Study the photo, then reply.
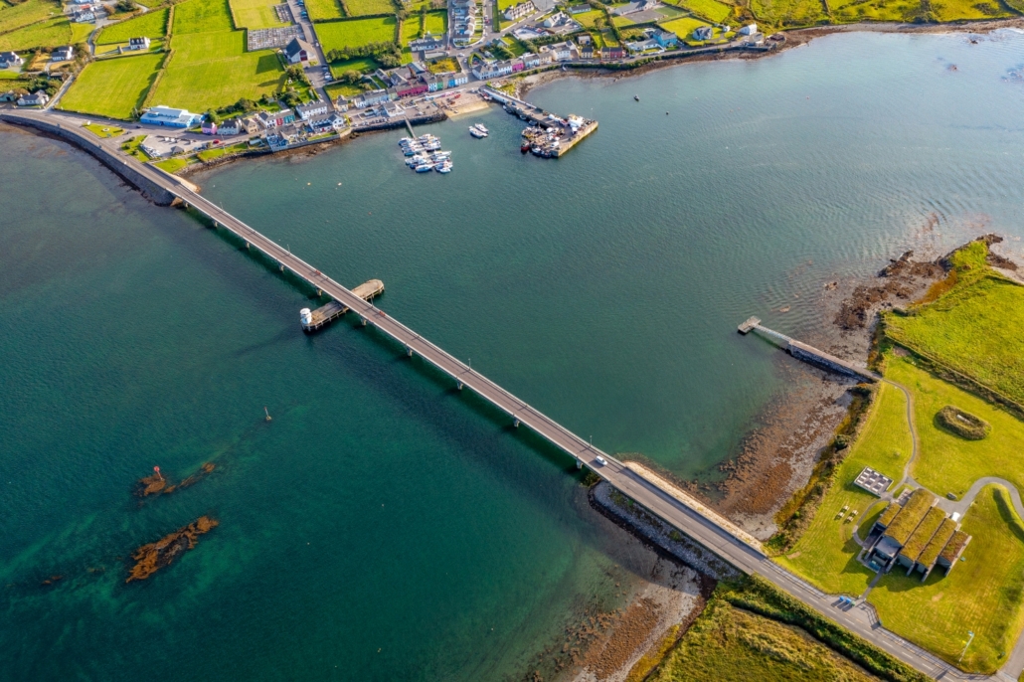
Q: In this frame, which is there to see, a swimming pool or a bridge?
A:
bridge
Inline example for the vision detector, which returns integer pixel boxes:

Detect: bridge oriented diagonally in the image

[165,184,625,483]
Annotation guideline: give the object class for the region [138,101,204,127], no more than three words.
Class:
building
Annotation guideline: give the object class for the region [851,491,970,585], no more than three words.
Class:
building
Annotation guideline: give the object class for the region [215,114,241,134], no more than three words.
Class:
house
